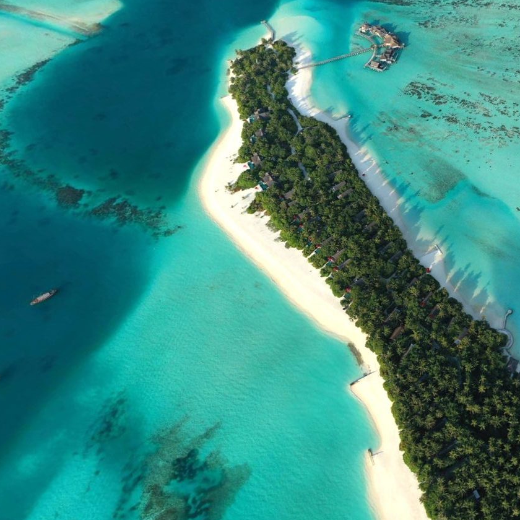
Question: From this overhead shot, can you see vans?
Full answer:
No, no van is visible in the scene.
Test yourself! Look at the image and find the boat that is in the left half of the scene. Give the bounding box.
[29,289,56,304]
